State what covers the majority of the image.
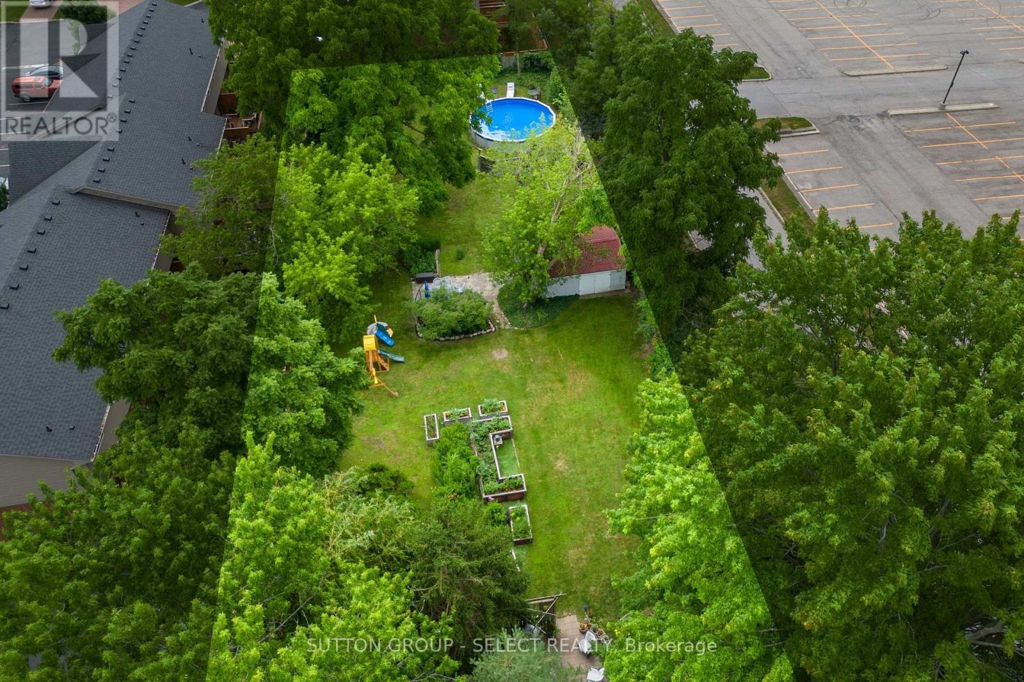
trees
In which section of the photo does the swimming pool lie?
top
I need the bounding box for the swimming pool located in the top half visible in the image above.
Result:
[467,99,559,157]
